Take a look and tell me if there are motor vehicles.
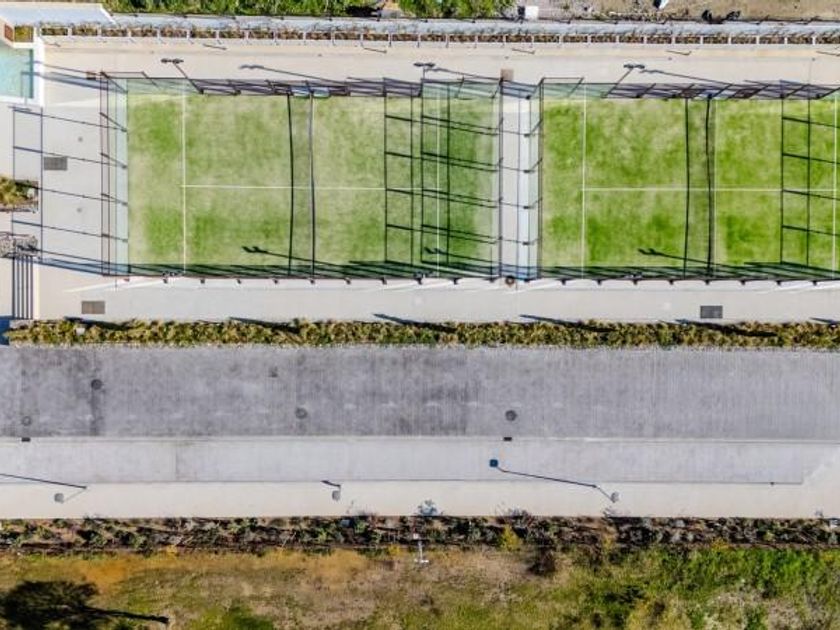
No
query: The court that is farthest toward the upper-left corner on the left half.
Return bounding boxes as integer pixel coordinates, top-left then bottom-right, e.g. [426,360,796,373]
[98,72,504,285]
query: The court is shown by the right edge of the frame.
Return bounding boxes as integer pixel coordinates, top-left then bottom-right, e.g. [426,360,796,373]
[523,76,840,287]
